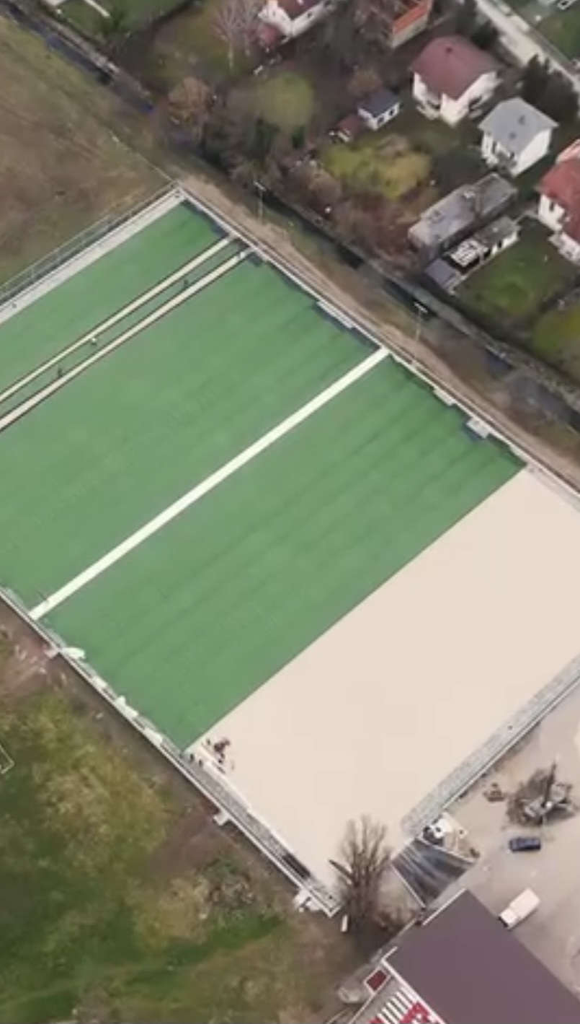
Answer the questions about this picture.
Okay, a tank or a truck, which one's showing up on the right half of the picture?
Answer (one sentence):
The feature located on the right half of the picture is a truck.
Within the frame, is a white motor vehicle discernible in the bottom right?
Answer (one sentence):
Yes, you'll find a white motor vehicle in the bottom right.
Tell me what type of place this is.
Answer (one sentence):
This looks like a sports ground.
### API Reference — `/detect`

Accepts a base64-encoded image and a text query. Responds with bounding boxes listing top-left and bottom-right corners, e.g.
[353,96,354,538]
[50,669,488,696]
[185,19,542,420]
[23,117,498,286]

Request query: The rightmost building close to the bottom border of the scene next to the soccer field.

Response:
[381,885,580,1024]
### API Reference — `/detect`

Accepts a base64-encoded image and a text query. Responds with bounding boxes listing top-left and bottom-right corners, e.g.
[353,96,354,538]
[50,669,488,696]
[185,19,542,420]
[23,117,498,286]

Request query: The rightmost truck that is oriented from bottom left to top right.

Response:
[500,887,542,933]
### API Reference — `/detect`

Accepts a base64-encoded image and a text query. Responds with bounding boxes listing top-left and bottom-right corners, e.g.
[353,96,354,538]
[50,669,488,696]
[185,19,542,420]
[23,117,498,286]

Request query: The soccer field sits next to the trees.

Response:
[0,192,580,912]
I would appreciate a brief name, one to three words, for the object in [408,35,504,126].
house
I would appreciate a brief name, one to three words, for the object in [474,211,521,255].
shed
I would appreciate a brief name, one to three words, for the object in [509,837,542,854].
car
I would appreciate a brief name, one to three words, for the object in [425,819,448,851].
work vehicle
